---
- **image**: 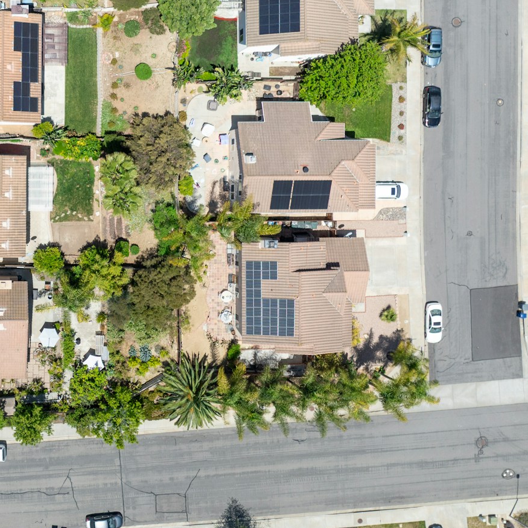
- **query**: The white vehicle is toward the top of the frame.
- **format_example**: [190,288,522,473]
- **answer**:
[376,181,413,200]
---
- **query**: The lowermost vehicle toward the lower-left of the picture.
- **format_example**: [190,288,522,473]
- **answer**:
[84,511,124,528]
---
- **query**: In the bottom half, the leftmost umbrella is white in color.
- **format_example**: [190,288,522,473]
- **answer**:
[38,328,60,348]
